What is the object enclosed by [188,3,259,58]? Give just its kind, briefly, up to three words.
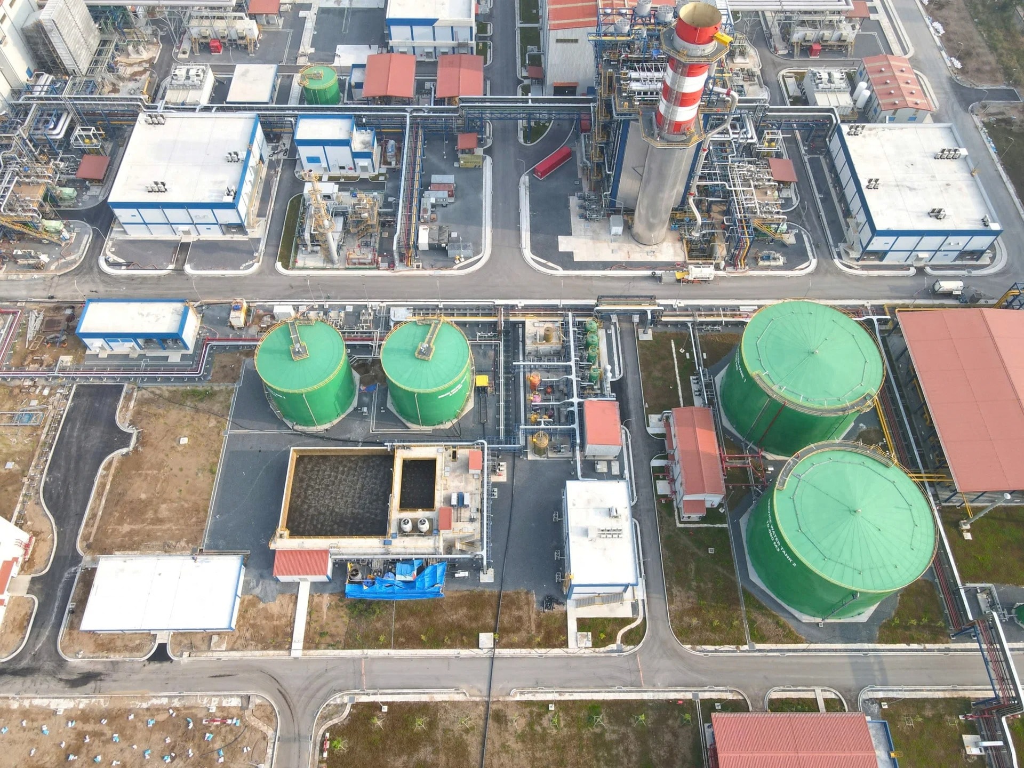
house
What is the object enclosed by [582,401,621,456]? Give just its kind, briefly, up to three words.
shed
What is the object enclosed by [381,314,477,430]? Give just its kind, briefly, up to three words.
storage tank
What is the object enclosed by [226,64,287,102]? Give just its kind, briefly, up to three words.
building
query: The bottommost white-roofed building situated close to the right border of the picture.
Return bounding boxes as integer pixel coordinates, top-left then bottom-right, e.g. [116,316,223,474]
[824,124,1003,261]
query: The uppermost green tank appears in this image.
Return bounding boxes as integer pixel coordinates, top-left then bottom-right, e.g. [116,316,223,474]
[295,55,343,102]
